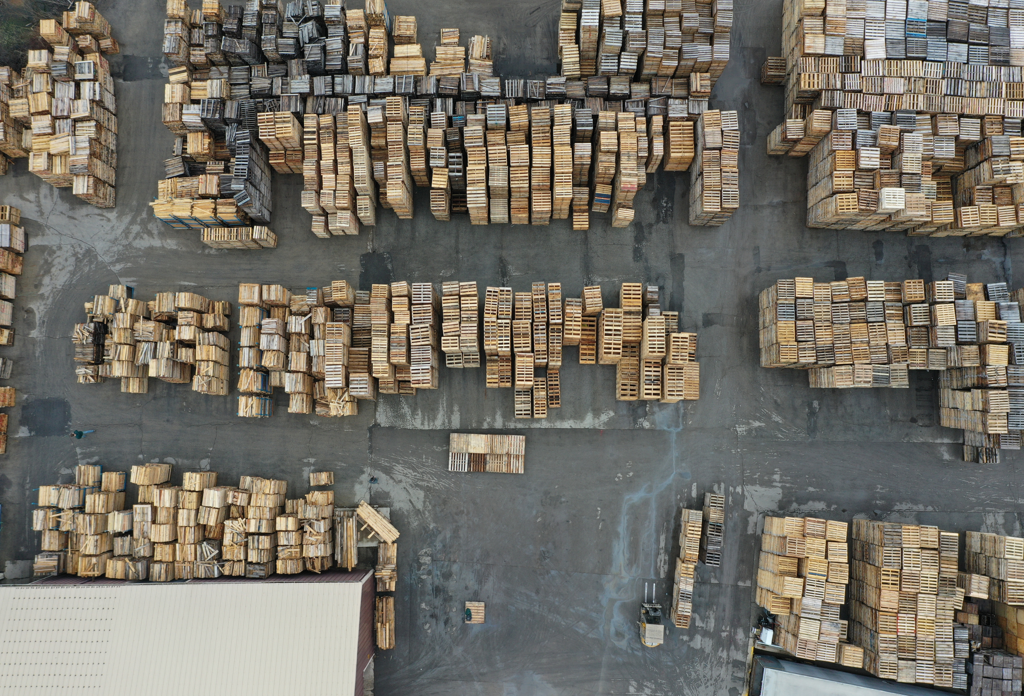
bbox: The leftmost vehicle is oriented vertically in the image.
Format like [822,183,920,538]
[637,578,665,649]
